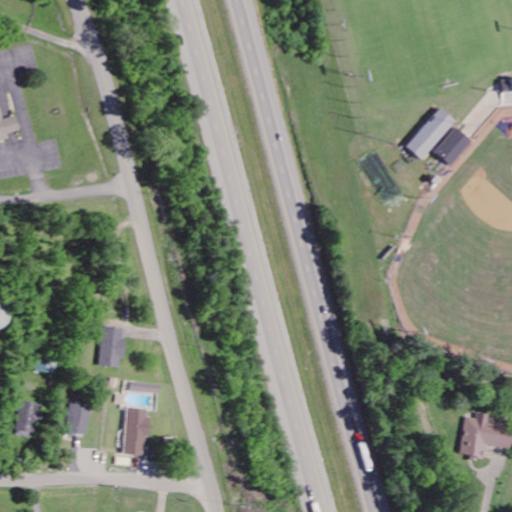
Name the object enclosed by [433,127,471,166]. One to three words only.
building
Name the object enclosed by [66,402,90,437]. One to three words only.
house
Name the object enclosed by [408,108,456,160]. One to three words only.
barn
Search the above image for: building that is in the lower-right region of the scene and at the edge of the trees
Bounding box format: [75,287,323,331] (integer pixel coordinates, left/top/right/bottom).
[460,410,512,460]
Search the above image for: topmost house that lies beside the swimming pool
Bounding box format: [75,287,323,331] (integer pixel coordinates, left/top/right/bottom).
[98,326,124,368]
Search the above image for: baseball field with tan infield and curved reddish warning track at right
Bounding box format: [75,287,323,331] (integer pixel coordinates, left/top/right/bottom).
[389,107,512,374]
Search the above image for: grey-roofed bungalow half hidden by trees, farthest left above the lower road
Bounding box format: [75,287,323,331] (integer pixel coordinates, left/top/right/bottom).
[12,400,42,440]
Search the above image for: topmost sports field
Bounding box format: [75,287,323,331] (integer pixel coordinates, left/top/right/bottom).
[344,0,512,104]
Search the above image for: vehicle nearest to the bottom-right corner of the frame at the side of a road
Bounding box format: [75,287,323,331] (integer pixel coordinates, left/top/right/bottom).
[356,433,372,473]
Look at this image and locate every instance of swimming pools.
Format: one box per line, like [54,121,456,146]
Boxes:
[115,381,159,411]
